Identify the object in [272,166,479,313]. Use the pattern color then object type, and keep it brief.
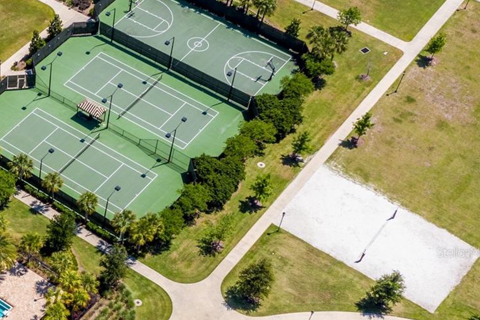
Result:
white sports court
